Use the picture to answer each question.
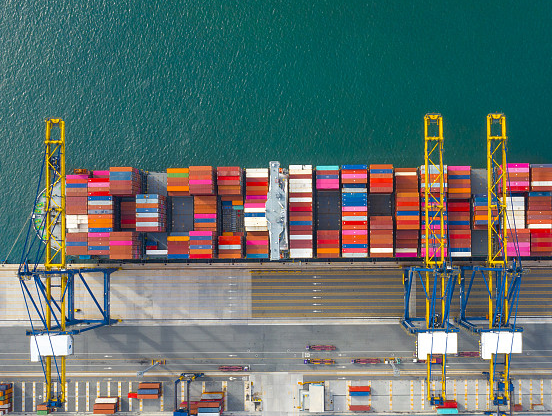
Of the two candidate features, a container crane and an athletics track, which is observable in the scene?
container crane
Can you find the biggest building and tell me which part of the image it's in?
bottom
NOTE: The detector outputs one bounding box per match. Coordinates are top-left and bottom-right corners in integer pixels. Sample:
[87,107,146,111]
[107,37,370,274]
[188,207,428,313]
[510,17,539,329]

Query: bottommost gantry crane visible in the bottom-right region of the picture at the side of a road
[485,372,515,416]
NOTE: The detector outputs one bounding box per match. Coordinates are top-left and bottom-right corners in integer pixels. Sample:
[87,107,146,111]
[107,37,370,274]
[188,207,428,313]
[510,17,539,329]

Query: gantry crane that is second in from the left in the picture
[174,374,203,416]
